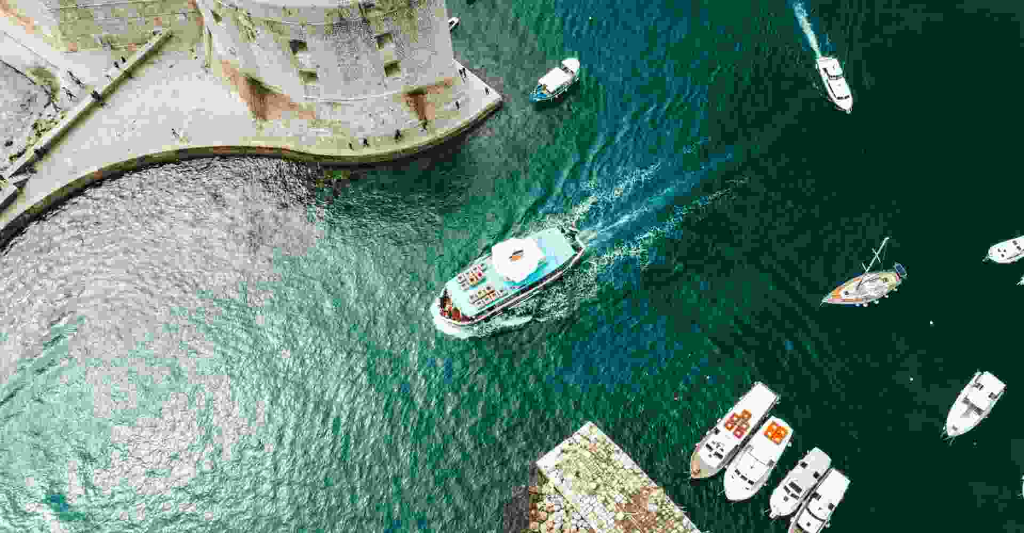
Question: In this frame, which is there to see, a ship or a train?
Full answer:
It is a ship that can be seen here.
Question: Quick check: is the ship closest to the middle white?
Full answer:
Yes, white is the color of the ship closest to the middle.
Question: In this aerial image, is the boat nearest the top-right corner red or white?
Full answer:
The boat nearest the top-right corner looks white in the image.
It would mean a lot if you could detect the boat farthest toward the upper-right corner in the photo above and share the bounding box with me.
[821,54,853,114]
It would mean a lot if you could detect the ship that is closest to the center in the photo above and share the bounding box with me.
[436,219,594,329]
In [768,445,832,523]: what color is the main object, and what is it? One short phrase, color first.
white boat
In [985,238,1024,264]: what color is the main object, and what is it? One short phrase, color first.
white boat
